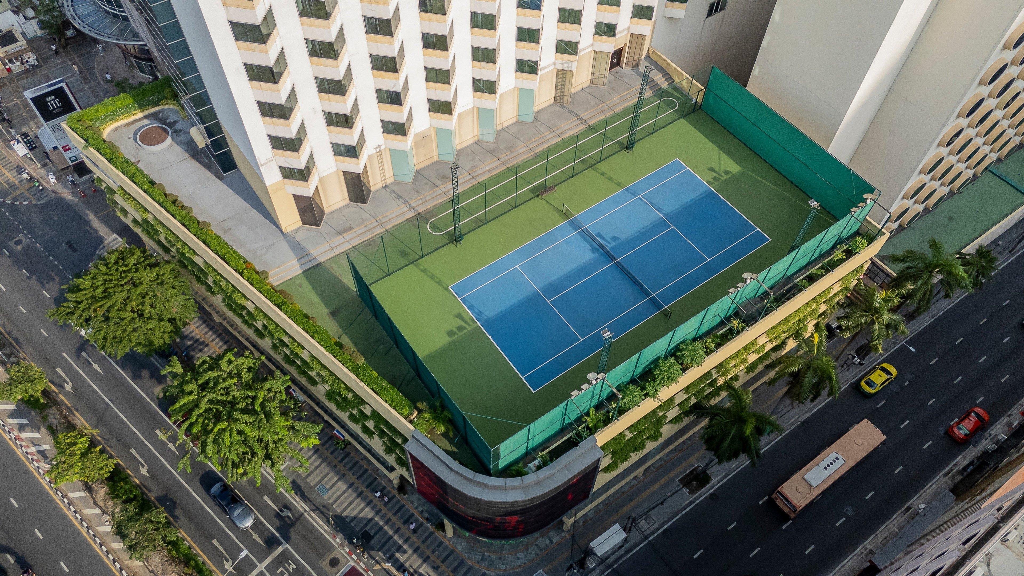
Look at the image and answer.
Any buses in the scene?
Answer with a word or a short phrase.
Yes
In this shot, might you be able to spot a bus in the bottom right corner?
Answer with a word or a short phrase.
Yes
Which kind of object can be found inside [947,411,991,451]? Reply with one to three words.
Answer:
car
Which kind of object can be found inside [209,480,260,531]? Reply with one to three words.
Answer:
car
